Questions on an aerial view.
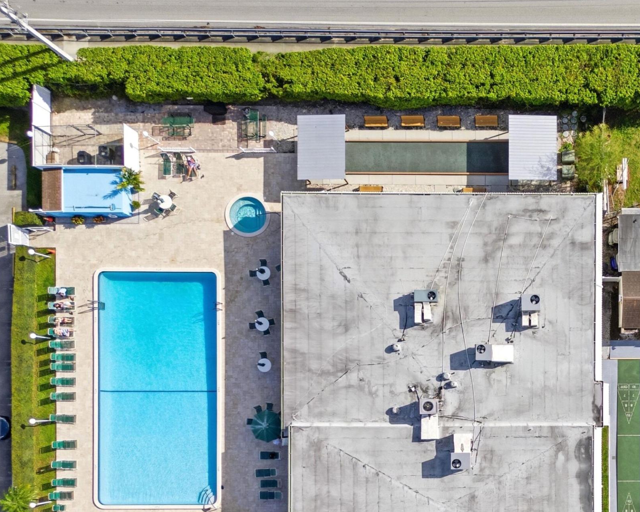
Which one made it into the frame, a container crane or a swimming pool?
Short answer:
swimming pool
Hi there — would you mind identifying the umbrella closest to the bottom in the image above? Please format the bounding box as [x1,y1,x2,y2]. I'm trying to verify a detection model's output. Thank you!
[254,413,283,442]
